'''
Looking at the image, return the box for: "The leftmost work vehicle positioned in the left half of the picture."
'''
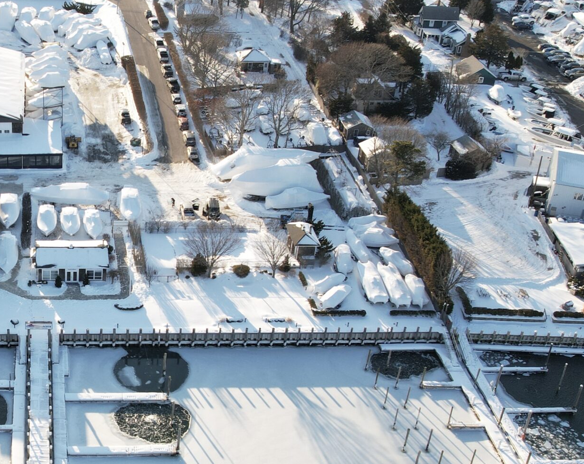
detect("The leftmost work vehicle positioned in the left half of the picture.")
[63,132,81,150]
